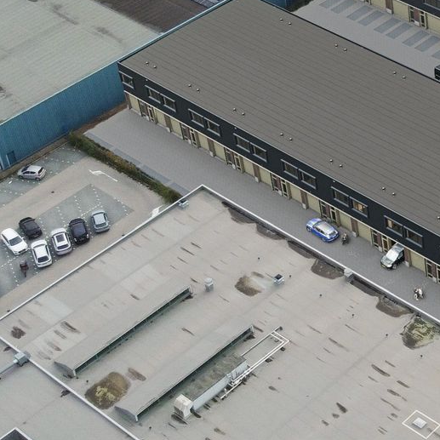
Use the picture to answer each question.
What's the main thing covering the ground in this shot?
buildings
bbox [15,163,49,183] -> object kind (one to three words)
car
